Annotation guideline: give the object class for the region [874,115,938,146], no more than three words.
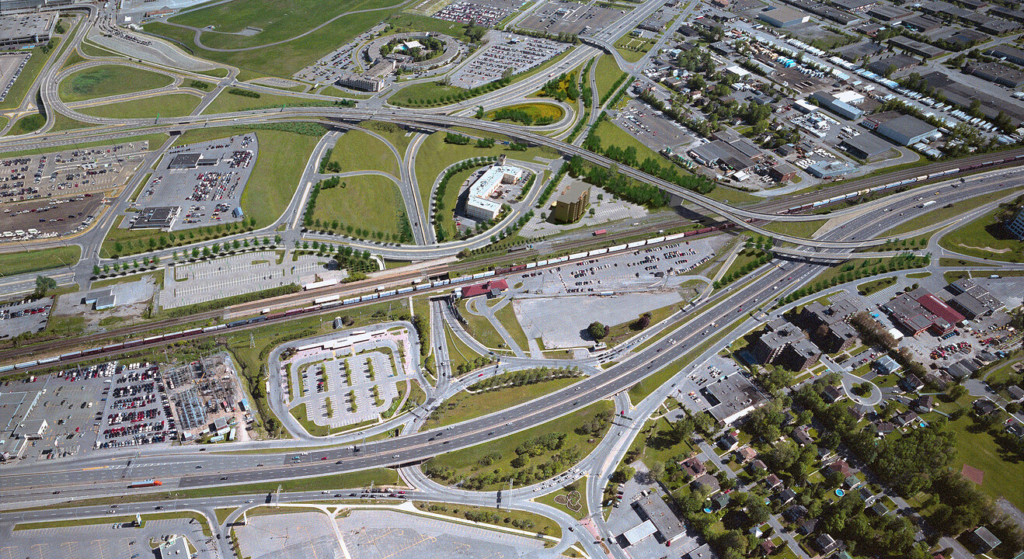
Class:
building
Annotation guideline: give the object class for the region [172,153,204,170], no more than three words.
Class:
building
